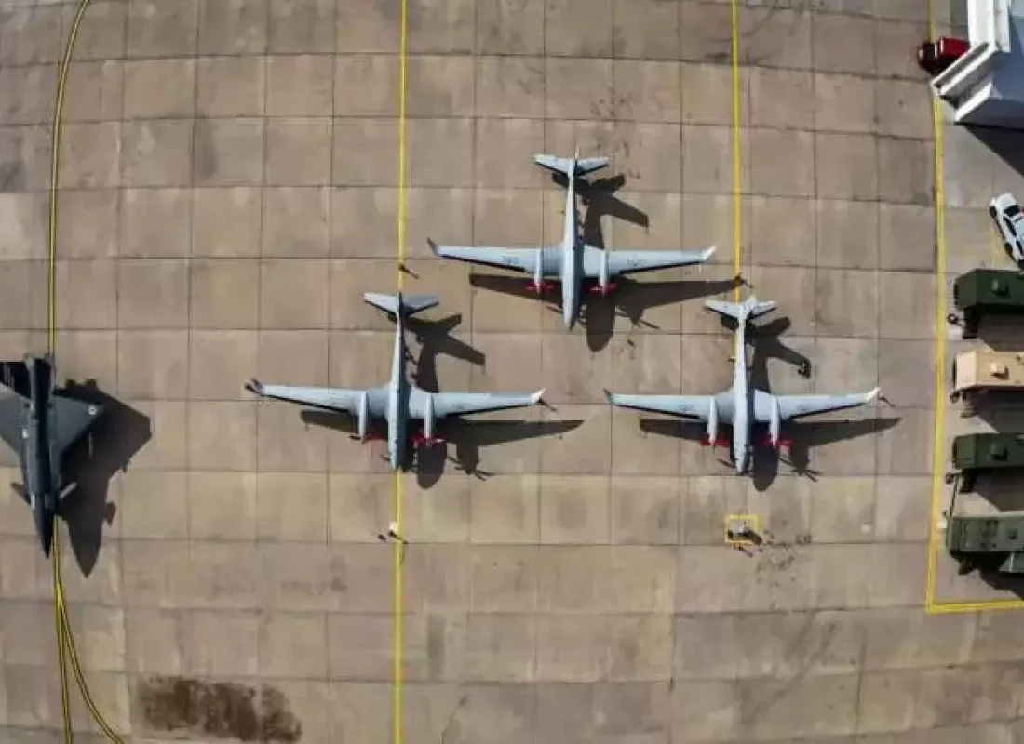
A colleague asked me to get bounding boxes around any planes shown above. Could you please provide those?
[427,142,714,331]
[601,297,882,474]
[0,354,106,562]
[250,289,540,472]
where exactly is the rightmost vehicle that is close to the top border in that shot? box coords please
[916,36,972,73]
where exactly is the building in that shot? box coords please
[931,0,1024,125]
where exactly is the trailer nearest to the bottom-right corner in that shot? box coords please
[939,510,1024,569]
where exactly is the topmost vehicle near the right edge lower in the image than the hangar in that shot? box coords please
[984,191,1024,261]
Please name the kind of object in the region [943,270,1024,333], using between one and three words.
trailer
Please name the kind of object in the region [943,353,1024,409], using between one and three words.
trailer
